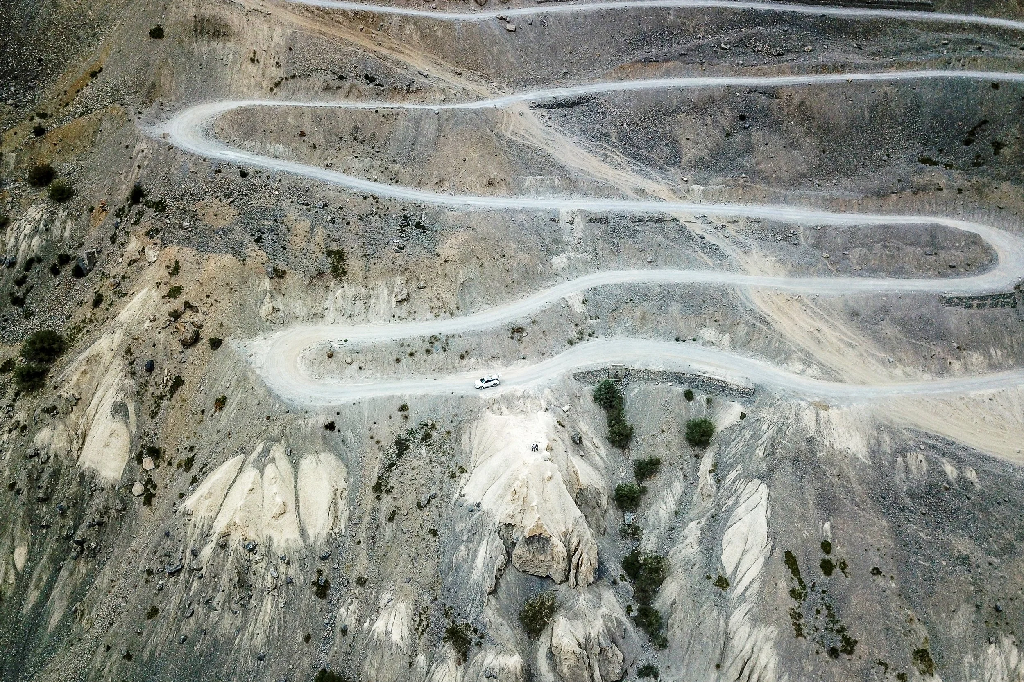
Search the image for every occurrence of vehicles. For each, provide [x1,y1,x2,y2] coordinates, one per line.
[474,371,505,390]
